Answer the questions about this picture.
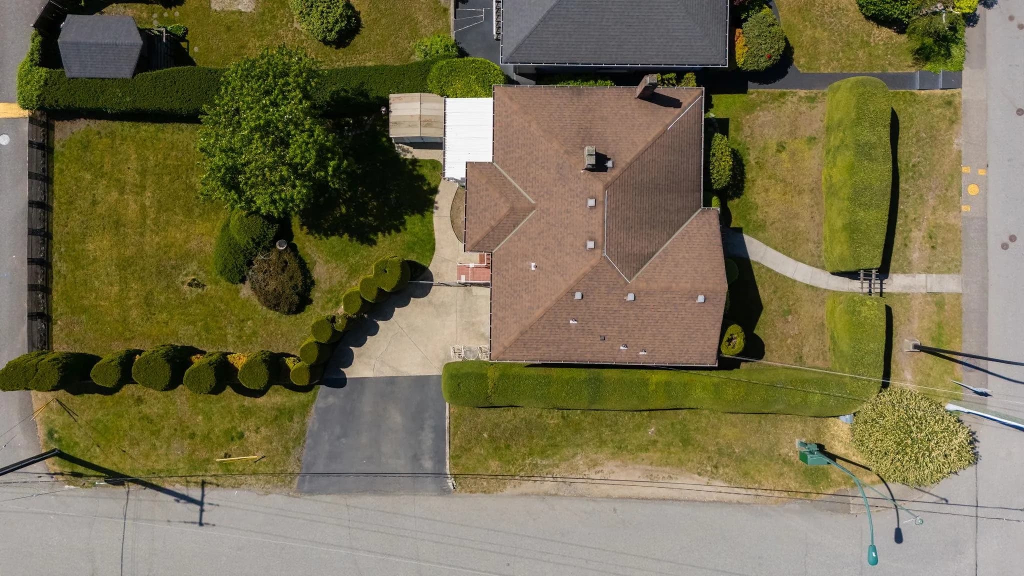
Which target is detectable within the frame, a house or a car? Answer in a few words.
house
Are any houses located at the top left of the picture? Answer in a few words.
Yes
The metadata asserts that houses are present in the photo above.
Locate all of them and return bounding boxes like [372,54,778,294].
[498,0,731,71]
[57,14,151,78]
[462,72,731,365]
